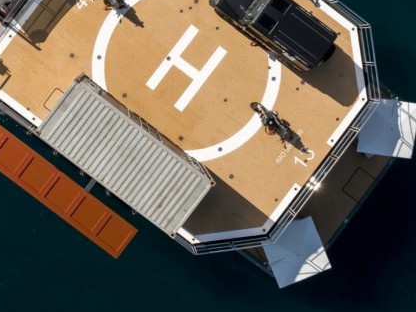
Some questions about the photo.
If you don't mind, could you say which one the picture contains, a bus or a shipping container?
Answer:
shipping container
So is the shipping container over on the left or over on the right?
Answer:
left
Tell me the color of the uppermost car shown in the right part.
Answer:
black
